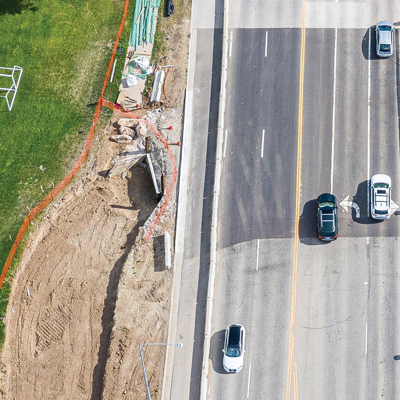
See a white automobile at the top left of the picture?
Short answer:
No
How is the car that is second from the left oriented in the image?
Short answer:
vertically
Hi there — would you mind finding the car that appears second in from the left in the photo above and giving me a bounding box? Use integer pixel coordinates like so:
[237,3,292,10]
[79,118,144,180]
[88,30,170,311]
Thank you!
[314,193,339,243]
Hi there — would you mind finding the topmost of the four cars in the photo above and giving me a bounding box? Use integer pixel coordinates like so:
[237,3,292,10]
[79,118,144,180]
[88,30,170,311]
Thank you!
[374,21,396,60]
